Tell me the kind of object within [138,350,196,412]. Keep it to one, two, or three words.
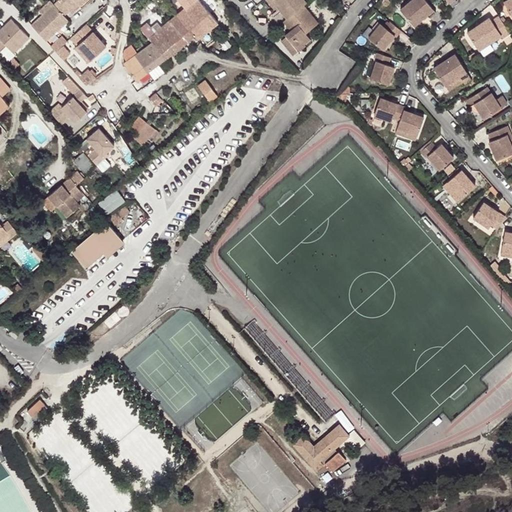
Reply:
tennis court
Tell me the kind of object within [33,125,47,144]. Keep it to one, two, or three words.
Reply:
swimming pool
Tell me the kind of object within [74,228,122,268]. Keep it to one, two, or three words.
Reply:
building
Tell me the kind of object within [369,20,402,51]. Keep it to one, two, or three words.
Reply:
house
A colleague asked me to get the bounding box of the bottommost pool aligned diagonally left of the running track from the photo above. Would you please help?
[13,245,38,270]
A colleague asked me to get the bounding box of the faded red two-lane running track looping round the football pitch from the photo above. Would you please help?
[210,124,512,464]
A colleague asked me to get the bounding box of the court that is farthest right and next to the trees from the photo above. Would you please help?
[230,442,299,512]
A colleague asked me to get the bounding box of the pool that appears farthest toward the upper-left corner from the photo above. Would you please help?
[33,68,52,87]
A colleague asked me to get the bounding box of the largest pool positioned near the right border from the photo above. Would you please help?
[496,74,511,94]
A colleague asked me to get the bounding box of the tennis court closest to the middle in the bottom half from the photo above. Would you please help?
[170,322,229,383]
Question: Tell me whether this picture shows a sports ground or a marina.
sports ground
